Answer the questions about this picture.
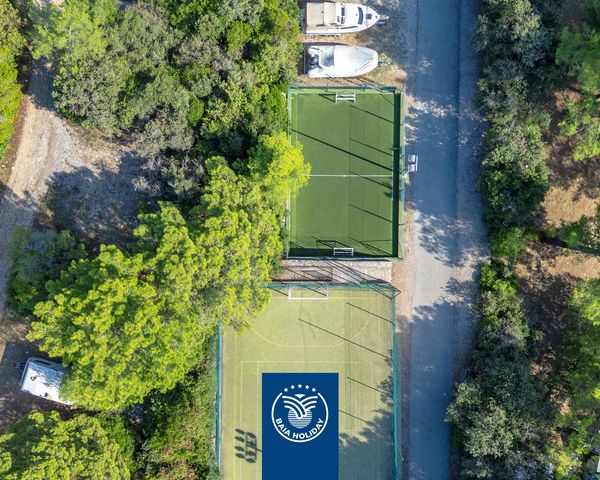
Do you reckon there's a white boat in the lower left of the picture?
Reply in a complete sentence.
No, there's no white boat to be seen in the lower left of the picture.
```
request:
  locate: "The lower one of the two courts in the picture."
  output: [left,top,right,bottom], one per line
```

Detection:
[220,285,396,480]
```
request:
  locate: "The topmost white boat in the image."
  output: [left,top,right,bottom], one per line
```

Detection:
[302,1,383,33]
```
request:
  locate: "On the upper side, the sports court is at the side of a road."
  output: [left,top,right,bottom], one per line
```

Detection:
[289,89,402,257]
